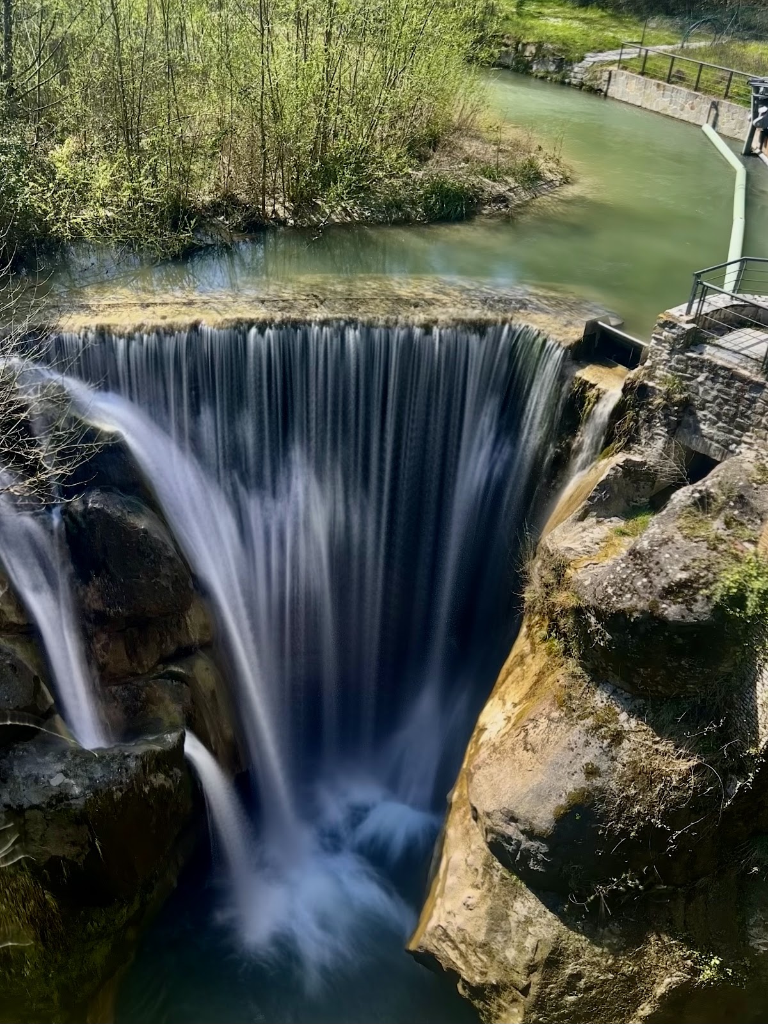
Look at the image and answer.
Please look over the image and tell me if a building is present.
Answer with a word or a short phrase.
No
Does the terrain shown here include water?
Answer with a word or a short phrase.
Yes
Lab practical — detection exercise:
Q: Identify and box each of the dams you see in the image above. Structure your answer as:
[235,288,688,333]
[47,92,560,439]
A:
[0,278,610,684]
